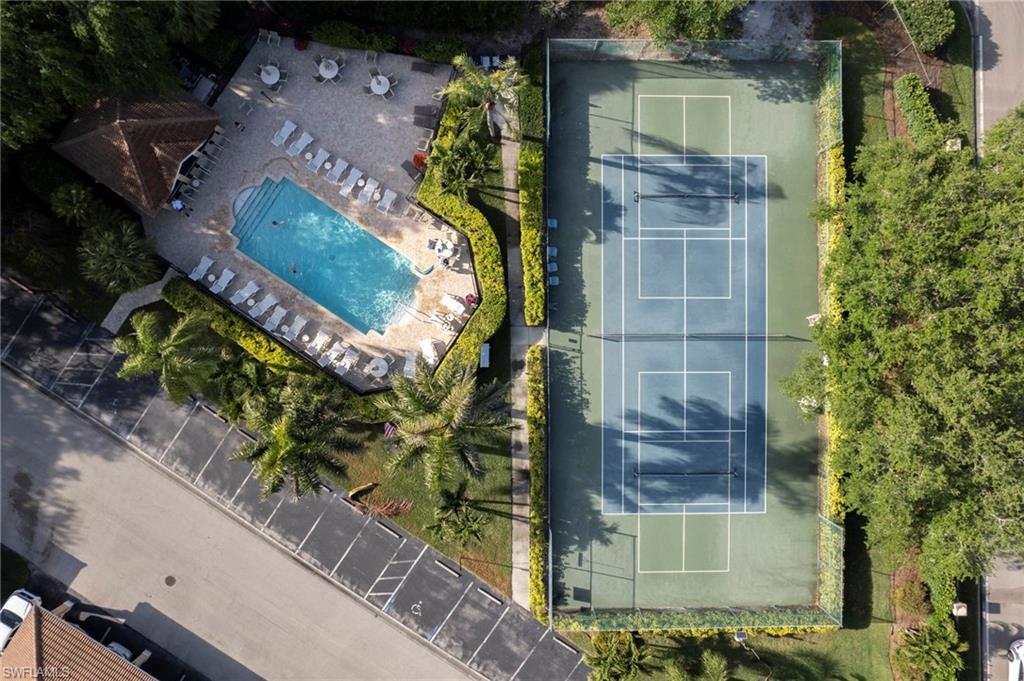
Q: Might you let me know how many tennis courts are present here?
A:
1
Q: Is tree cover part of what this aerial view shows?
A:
Yes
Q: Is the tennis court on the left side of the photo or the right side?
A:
right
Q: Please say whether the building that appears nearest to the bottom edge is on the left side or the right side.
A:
left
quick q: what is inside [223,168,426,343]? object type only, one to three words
swimming pool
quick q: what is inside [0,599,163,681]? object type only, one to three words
building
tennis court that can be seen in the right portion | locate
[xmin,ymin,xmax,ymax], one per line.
[548,61,818,605]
